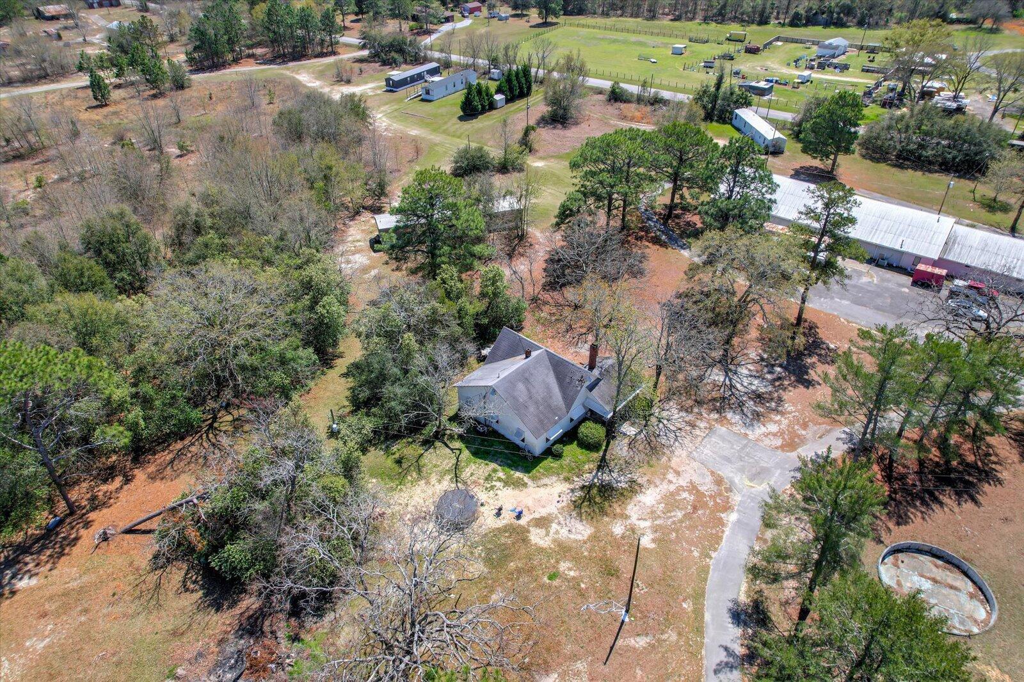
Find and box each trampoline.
[434,486,480,525]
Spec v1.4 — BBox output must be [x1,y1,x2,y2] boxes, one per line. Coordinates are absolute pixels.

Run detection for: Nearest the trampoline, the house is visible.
[451,327,646,455]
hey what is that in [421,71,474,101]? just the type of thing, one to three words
house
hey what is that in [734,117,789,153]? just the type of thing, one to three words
house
